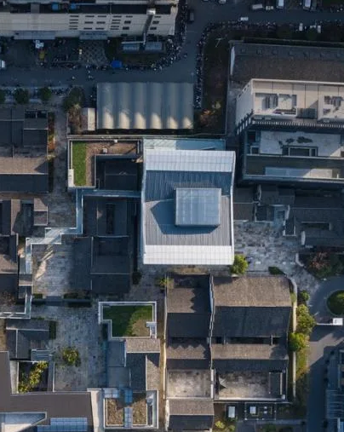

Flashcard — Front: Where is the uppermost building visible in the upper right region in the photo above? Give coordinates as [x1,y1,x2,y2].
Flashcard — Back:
[223,42,344,91]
